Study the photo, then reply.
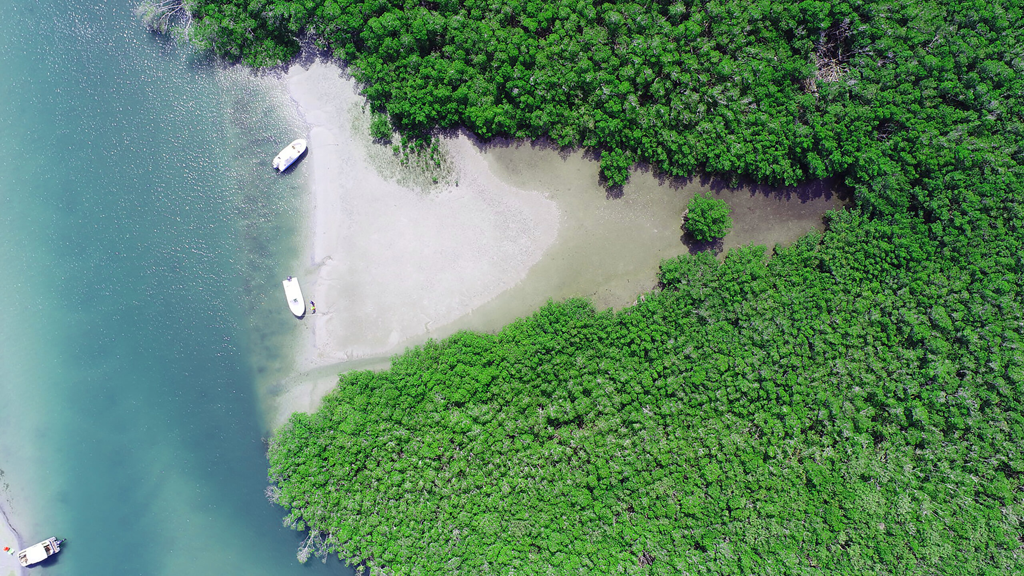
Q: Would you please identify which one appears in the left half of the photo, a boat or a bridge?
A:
boat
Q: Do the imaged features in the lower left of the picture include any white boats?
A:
Yes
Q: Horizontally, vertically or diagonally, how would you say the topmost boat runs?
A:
diagonally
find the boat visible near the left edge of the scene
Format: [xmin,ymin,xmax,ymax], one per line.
[19,535,65,565]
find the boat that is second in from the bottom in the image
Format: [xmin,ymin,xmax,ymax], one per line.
[284,277,305,316]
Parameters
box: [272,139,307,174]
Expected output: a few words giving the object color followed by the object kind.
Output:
white boat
